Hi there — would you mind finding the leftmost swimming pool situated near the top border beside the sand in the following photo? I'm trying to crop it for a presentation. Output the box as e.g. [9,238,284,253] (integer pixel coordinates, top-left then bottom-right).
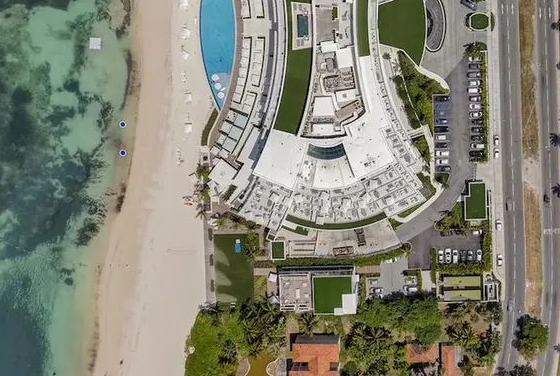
[198,0,236,111]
